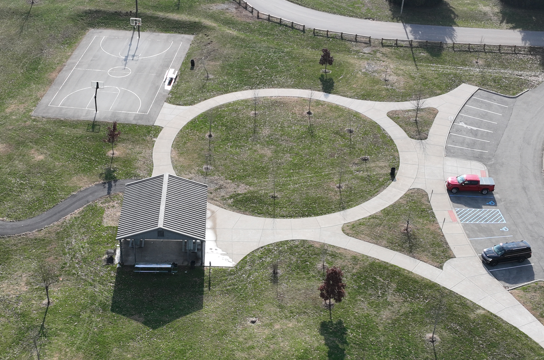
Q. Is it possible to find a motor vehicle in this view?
Yes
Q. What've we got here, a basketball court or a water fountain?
basketball court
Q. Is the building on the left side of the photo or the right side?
left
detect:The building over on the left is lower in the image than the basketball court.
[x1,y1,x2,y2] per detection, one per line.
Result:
[116,171,208,263]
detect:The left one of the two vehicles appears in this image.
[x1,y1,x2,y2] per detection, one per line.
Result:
[445,174,495,194]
